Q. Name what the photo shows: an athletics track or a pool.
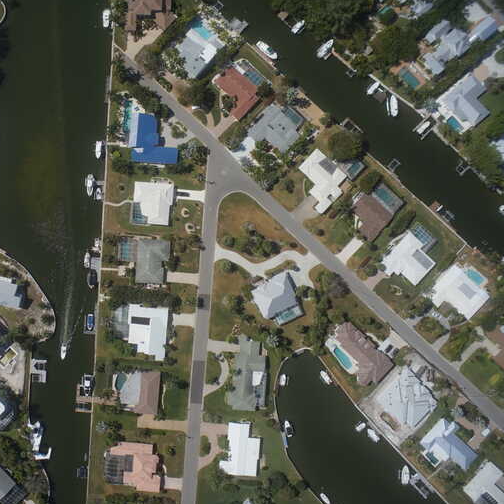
pool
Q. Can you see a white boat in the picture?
Yes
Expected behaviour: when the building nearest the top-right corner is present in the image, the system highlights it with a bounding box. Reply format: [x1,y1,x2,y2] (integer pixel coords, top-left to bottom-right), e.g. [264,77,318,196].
[470,16,496,43]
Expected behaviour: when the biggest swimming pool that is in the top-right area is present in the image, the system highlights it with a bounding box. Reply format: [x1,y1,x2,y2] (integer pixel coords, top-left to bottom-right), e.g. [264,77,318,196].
[434,71,476,133]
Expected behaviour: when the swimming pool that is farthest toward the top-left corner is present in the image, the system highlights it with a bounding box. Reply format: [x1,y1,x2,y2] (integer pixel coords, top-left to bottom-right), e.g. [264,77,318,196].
[119,95,144,144]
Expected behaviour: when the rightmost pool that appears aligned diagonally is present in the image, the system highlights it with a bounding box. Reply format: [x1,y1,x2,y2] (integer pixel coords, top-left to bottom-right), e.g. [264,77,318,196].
[462,264,487,289]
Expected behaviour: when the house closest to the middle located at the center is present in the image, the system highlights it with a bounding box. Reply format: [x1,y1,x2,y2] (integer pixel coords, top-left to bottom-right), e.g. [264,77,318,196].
[252,271,304,326]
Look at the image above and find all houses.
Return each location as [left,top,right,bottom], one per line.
[252,271,304,326]
[176,29,215,79]
[353,184,404,241]
[113,304,167,360]
[105,442,159,492]
[444,74,491,128]
[462,461,504,504]
[0,467,26,504]
[422,16,472,76]
[226,335,266,411]
[381,223,435,286]
[0,277,24,308]
[216,58,270,120]
[118,239,170,284]
[125,0,176,32]
[486,325,504,369]
[219,422,262,476]
[334,319,397,390]
[298,148,364,214]
[128,110,177,163]
[419,418,477,470]
[131,181,174,226]
[121,371,160,415]
[0,398,15,426]
[431,263,489,319]
[247,105,305,152]
[395,0,433,16]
